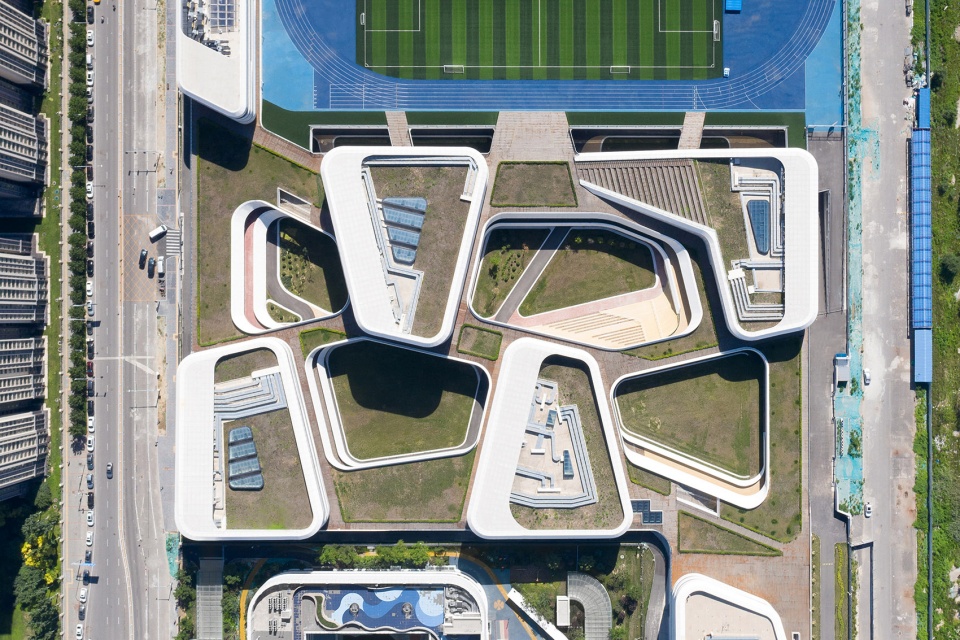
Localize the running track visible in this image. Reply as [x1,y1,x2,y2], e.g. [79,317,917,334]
[263,0,844,152]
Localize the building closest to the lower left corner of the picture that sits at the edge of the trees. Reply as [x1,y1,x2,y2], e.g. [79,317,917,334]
[0,410,50,498]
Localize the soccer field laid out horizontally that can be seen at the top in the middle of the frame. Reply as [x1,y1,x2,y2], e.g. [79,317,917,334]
[356,0,723,81]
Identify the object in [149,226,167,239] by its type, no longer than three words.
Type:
vehicle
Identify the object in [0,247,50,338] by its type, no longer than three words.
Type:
building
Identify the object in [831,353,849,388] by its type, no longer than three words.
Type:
shed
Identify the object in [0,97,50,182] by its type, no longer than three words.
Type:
building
